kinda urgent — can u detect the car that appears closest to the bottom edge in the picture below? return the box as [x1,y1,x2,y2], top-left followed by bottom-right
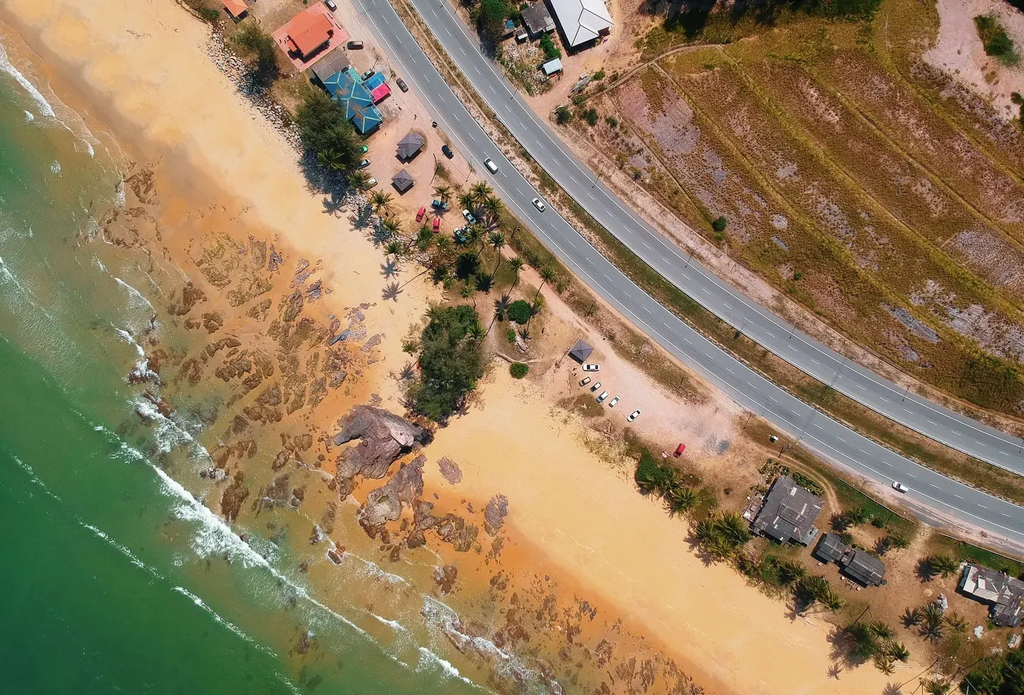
[892,481,912,495]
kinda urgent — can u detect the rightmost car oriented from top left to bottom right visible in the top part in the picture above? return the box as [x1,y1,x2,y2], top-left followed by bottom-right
[531,196,546,213]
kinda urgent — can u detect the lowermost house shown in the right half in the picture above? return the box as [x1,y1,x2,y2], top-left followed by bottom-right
[959,565,1024,627]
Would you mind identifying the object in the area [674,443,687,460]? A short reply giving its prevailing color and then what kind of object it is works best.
red vehicle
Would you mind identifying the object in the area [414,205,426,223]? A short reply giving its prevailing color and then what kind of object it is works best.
red vehicle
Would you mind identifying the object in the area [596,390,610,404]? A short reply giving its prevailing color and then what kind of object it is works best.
white car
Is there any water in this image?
Yes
